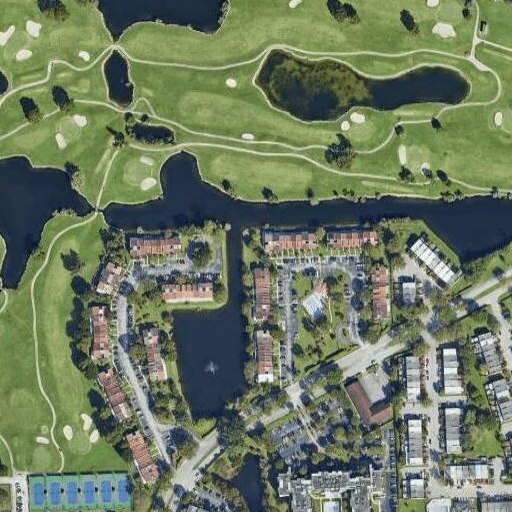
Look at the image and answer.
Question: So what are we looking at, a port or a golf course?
golf course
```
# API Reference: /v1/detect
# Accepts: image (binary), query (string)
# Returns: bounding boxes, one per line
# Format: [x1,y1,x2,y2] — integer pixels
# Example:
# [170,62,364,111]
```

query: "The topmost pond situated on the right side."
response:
[256,51,469,122]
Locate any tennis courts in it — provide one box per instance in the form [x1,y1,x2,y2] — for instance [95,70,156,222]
[64,475,81,508]
[98,475,114,508]
[29,475,47,508]
[47,475,64,508]
[114,475,131,508]
[81,475,98,508]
